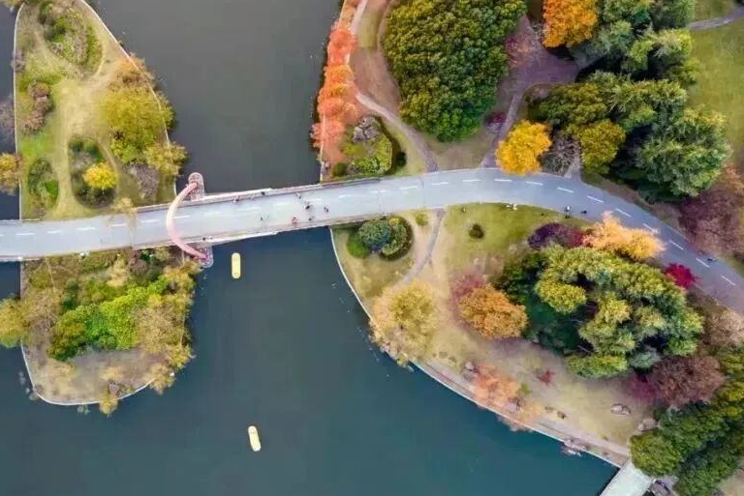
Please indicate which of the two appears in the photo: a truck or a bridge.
bridge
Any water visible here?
Yes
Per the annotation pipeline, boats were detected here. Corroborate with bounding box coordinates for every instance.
[247,426,260,451]
[231,252,240,279]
